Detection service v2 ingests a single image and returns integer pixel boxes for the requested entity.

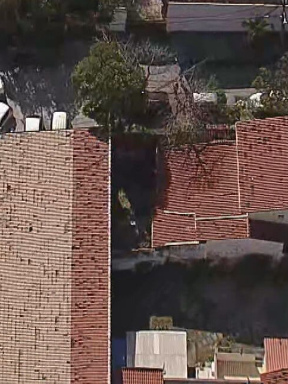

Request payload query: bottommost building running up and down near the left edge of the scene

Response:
[0,131,112,384]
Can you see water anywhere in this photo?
No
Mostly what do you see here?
buildings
